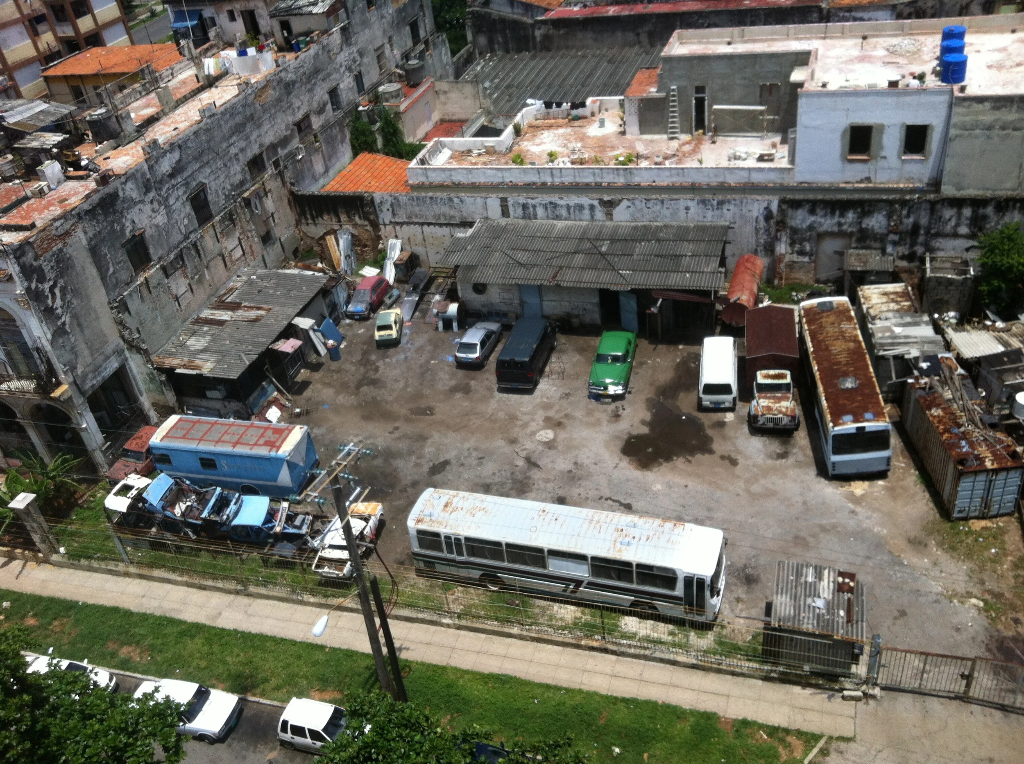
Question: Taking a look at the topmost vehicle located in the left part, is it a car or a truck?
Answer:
car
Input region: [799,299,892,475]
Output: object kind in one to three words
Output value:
bus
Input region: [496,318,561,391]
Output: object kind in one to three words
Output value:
van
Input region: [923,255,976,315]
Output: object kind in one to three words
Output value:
shed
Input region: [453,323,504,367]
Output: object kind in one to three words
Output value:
car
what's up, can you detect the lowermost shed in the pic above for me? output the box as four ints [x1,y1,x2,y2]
[763,561,864,674]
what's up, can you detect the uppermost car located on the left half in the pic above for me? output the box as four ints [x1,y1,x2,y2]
[346,272,397,320]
